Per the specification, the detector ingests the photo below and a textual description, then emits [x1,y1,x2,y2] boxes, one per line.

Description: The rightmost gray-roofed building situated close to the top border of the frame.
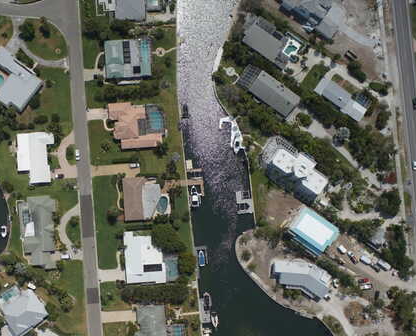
[278,0,339,47]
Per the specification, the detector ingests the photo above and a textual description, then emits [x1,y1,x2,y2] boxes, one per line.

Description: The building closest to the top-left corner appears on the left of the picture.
[0,47,39,114]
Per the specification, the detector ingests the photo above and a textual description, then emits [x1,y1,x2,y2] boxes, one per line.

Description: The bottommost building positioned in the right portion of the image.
[272,261,332,301]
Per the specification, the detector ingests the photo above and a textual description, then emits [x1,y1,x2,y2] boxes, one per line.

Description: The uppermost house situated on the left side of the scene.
[115,0,163,21]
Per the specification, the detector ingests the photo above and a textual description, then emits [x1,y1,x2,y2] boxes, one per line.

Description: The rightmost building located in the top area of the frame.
[314,76,376,124]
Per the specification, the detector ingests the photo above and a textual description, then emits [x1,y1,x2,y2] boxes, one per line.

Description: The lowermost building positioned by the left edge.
[0,285,47,336]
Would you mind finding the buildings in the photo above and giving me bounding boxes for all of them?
[123,177,159,222]
[134,304,186,336]
[264,136,329,200]
[105,37,152,77]
[18,196,54,271]
[15,132,54,184]
[242,10,292,69]
[115,0,163,21]
[0,285,47,336]
[278,0,339,47]
[236,64,300,116]
[287,207,340,255]
[272,261,332,301]
[0,47,39,114]
[124,232,179,283]
[108,103,165,151]
[369,230,389,249]
[314,76,376,124]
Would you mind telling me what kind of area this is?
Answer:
residential area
